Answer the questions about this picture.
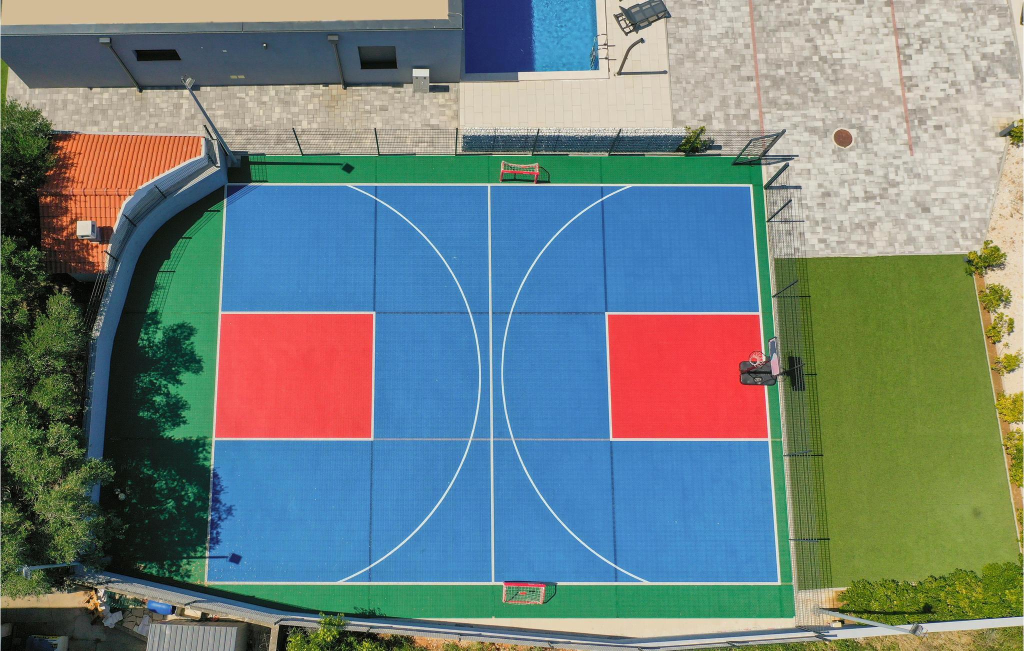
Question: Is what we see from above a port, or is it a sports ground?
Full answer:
What you see here is a sports ground.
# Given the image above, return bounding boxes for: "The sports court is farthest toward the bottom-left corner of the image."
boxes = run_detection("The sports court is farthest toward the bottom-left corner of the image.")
[97,157,793,618]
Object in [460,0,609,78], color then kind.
blue swimming pool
